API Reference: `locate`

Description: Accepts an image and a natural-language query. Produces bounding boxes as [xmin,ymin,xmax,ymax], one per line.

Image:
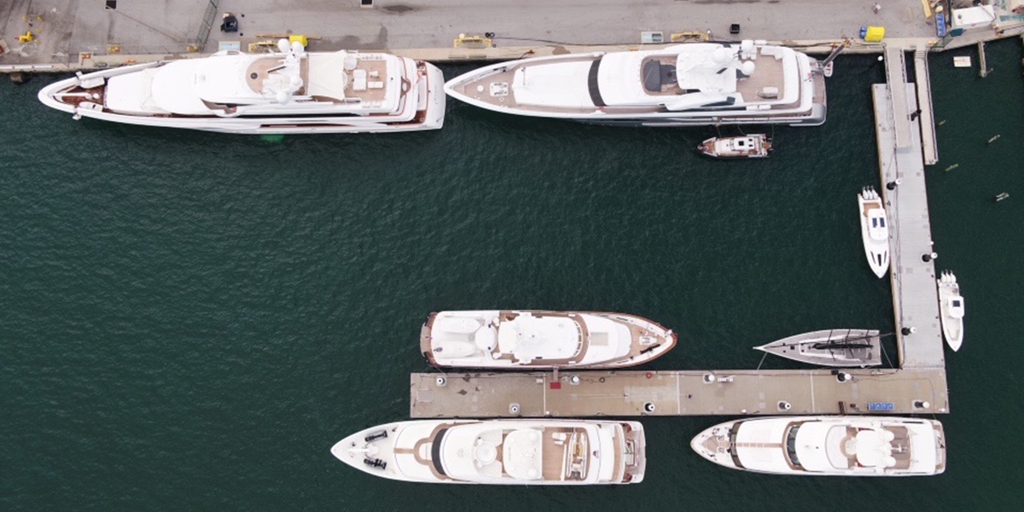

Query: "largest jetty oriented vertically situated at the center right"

[870,84,947,369]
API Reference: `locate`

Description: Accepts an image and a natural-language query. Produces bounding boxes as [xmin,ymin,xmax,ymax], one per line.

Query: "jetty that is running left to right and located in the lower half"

[410,368,948,419]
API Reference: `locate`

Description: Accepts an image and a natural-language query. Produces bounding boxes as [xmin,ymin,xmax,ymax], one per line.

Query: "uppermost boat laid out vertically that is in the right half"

[855,188,888,279]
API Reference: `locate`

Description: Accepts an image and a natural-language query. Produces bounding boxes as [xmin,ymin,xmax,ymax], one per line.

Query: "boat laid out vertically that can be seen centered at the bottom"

[566,430,588,478]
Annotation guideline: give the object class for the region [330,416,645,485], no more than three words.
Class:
boat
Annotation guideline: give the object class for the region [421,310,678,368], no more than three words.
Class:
boat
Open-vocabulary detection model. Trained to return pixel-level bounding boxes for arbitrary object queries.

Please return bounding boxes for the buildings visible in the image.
[945,2,995,34]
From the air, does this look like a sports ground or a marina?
marina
